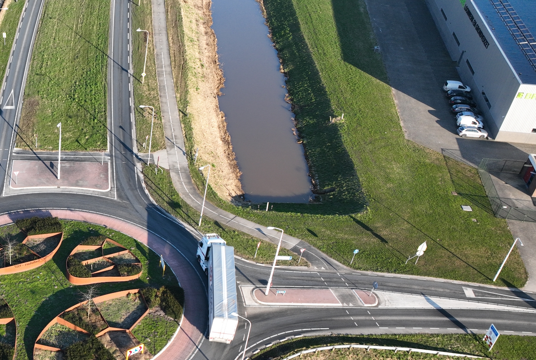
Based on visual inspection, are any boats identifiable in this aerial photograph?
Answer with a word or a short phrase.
No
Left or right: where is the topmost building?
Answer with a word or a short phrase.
right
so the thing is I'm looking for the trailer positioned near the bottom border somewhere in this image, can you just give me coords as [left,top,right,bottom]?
[208,244,238,343]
